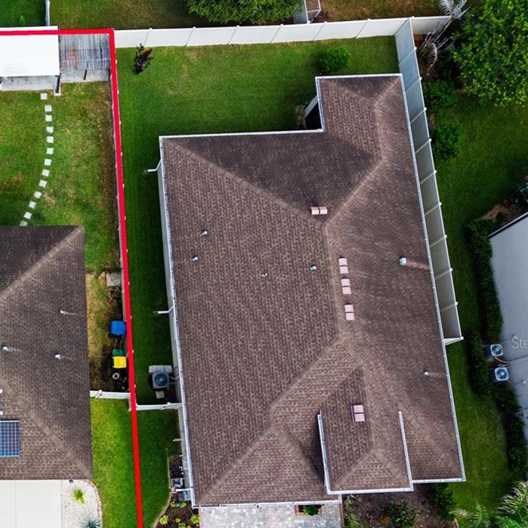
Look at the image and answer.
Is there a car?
No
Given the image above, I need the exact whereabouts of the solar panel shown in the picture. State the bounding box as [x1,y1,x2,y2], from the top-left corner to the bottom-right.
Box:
[0,422,19,456]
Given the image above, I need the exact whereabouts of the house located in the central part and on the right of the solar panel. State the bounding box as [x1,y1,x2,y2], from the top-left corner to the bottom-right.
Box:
[148,72,468,510]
